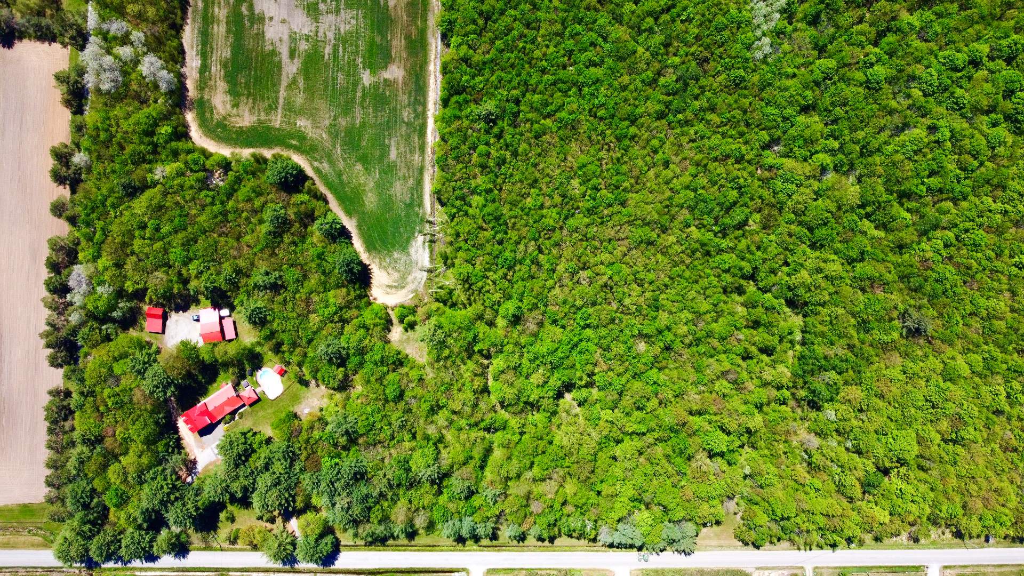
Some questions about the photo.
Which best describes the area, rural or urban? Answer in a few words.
rural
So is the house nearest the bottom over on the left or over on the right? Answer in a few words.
left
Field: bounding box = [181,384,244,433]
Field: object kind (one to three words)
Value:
house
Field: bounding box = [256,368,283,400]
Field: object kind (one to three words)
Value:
swimming pool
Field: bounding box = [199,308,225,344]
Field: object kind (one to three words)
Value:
barn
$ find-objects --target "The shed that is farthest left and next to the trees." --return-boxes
[146,307,167,333]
